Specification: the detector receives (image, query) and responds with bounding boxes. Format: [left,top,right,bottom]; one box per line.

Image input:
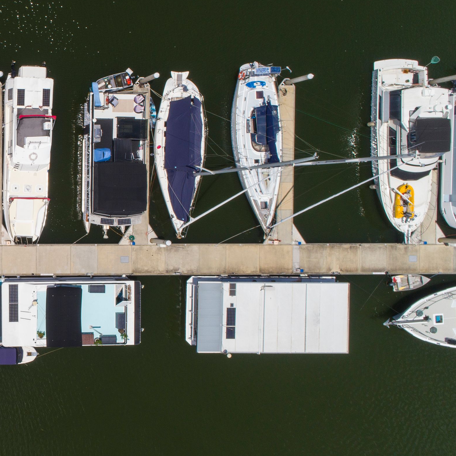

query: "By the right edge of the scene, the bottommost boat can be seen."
[383,287,456,347]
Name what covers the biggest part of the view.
water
